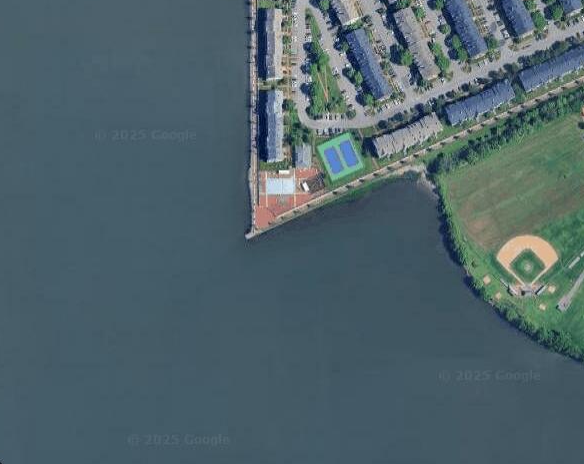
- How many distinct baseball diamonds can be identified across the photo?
one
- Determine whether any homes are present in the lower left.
No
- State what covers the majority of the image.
water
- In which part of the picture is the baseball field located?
right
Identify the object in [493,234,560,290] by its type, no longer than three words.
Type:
baseball field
